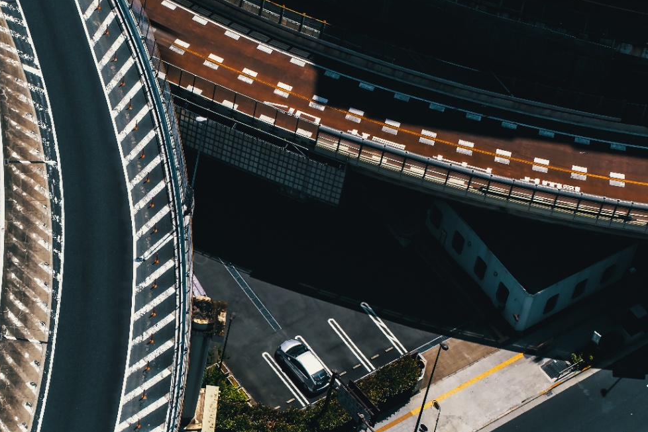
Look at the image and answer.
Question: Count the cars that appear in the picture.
1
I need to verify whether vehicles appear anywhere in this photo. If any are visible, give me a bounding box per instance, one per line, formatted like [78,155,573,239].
[280,339,327,394]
